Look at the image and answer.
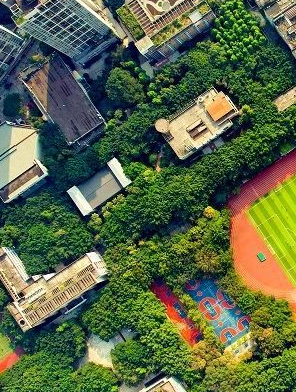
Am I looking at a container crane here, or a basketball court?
basketball court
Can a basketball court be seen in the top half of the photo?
No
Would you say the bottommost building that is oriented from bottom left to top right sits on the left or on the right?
left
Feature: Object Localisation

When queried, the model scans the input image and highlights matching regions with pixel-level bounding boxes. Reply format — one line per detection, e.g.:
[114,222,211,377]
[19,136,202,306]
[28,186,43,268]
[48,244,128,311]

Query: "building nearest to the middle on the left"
[66,160,130,216]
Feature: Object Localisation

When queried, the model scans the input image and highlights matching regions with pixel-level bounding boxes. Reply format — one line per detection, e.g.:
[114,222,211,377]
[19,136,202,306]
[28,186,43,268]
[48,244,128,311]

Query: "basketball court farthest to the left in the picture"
[149,277,204,347]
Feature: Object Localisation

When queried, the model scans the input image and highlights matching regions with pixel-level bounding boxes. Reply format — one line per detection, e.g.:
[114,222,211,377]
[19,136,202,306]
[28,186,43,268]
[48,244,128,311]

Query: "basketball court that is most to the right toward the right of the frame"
[185,274,253,347]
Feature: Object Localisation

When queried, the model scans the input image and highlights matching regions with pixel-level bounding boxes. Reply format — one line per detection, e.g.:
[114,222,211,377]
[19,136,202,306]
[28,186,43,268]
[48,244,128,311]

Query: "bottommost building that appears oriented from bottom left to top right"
[7,255,110,332]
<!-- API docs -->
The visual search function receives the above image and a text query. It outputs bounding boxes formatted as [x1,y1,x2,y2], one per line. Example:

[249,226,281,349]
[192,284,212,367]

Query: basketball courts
[185,274,253,347]
[149,277,204,347]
